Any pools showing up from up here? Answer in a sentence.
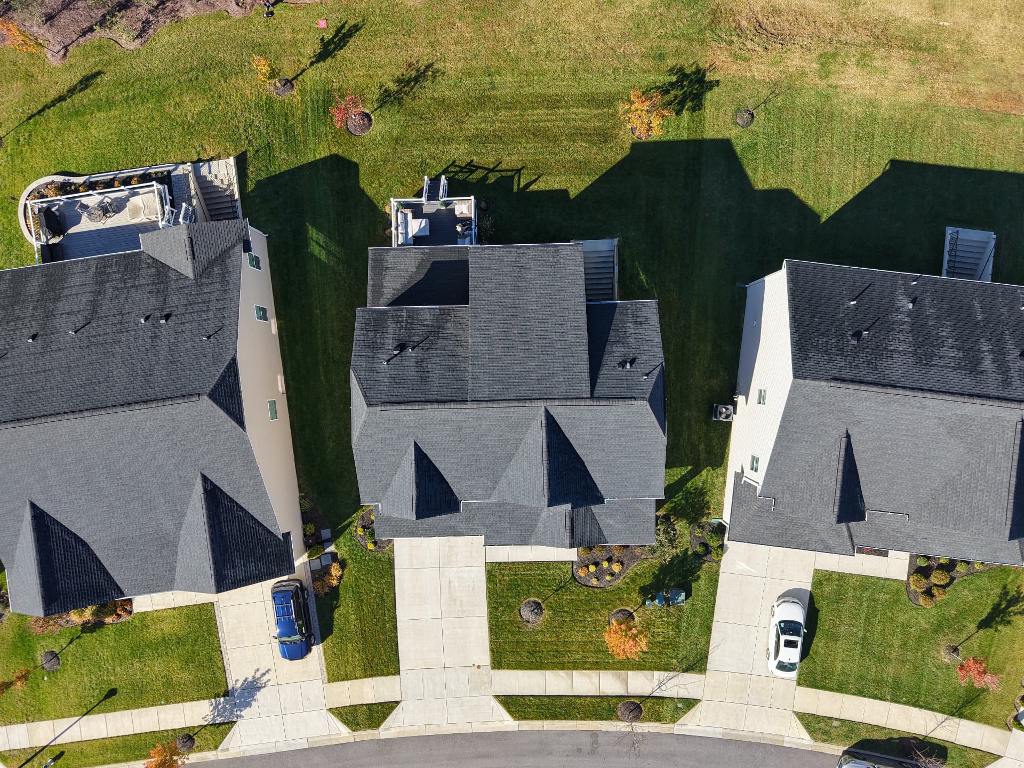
No, the picture doesn't show any pool.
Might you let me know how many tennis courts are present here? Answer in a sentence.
I count no tennis courts.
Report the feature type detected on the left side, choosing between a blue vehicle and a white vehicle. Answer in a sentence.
It is a blue vehicle that can be seen on the left side.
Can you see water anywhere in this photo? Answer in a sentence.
No, the picture contains no water.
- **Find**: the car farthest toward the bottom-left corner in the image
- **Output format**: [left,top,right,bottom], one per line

[271,578,316,660]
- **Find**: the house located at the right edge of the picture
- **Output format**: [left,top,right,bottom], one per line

[713,257,1024,569]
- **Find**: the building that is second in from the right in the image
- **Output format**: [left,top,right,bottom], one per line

[350,240,669,548]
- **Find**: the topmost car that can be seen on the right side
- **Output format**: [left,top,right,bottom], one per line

[763,593,810,678]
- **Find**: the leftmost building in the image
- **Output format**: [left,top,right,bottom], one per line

[0,218,307,622]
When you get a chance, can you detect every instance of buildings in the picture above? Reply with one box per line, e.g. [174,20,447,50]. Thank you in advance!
[350,240,669,548]
[713,257,1024,569]
[0,218,307,622]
